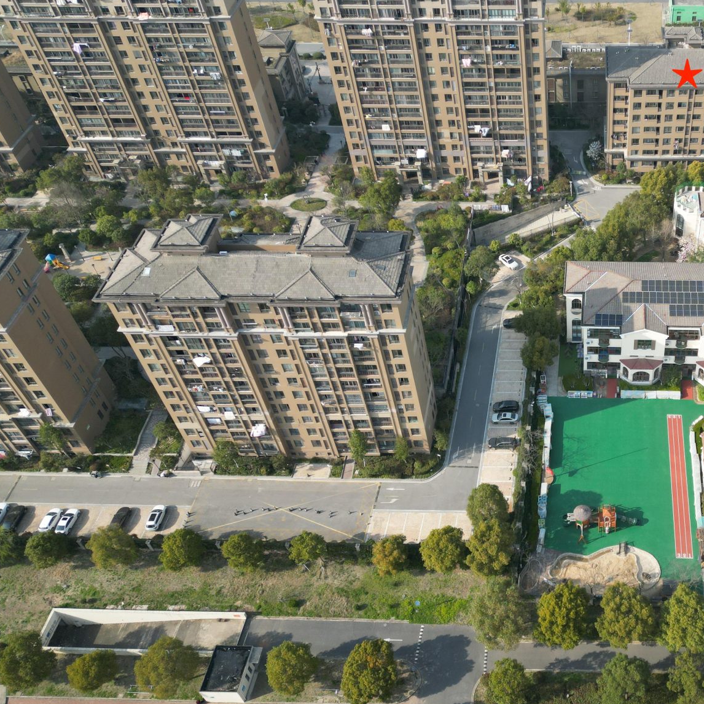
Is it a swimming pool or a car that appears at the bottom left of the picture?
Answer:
car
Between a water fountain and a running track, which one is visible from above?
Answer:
running track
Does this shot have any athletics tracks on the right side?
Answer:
Yes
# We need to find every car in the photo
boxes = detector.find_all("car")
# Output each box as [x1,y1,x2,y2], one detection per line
[143,504,166,535]
[112,505,135,530]
[0,500,12,518]
[36,506,63,532]
[490,437,521,452]
[2,502,27,529]
[501,317,527,330]
[490,411,520,425]
[56,507,80,532]
[490,400,520,412]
